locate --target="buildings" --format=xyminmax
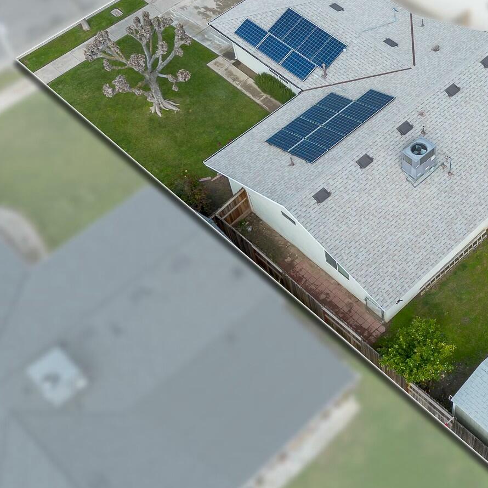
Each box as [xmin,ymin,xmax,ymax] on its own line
[446,355,488,447]
[0,189,361,488]
[203,0,488,322]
